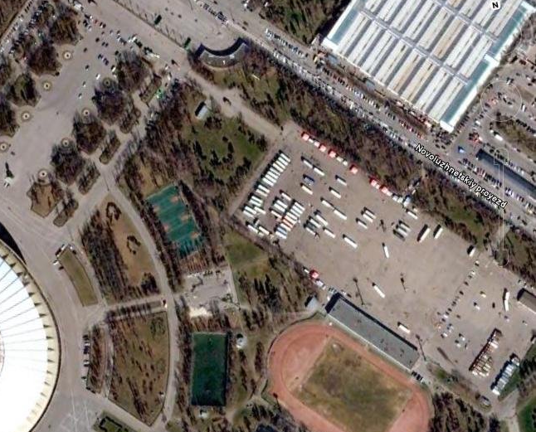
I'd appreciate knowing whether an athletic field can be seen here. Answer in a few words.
Yes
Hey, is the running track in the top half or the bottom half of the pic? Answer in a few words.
bottom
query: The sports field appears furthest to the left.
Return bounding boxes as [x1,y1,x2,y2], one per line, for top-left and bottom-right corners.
[192,333,228,406]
